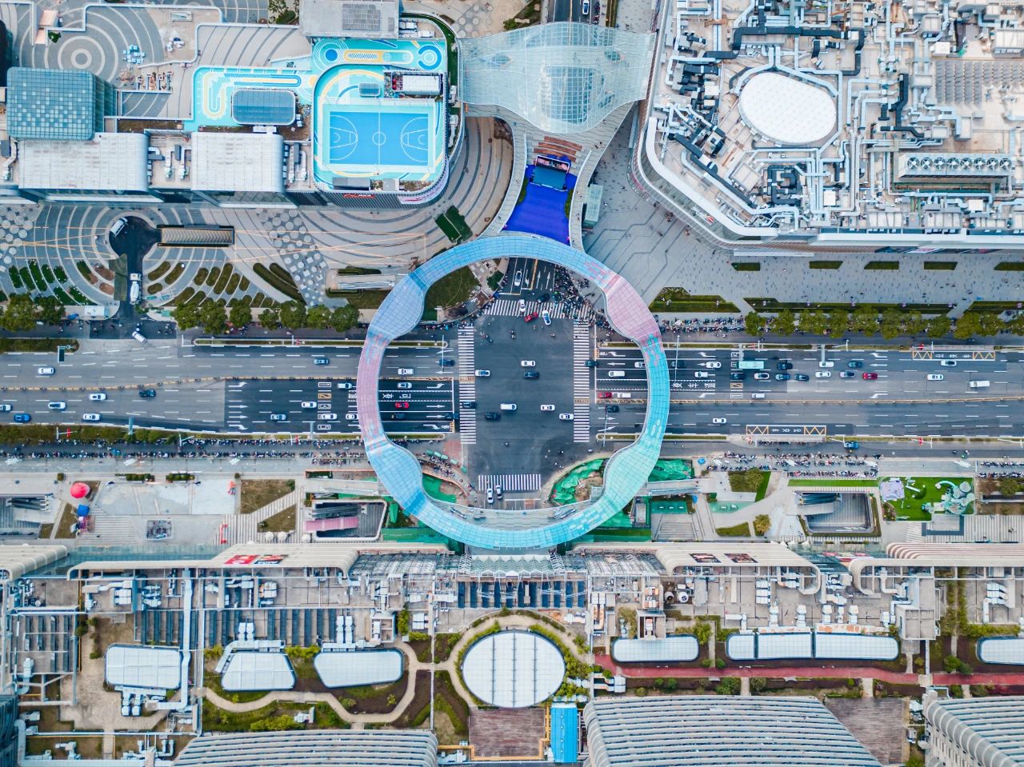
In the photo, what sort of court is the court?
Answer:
basketball court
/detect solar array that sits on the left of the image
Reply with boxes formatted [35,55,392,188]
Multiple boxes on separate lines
[343,4,380,30]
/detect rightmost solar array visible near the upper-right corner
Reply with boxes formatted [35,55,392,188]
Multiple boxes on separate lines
[936,61,1024,104]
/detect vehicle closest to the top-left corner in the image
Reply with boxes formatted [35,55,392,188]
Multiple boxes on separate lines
[110,219,125,235]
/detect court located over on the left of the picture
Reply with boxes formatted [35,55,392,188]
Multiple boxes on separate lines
[321,98,437,175]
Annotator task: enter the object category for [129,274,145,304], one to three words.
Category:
vehicle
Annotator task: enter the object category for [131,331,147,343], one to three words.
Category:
vehicle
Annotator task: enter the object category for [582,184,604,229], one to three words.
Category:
building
